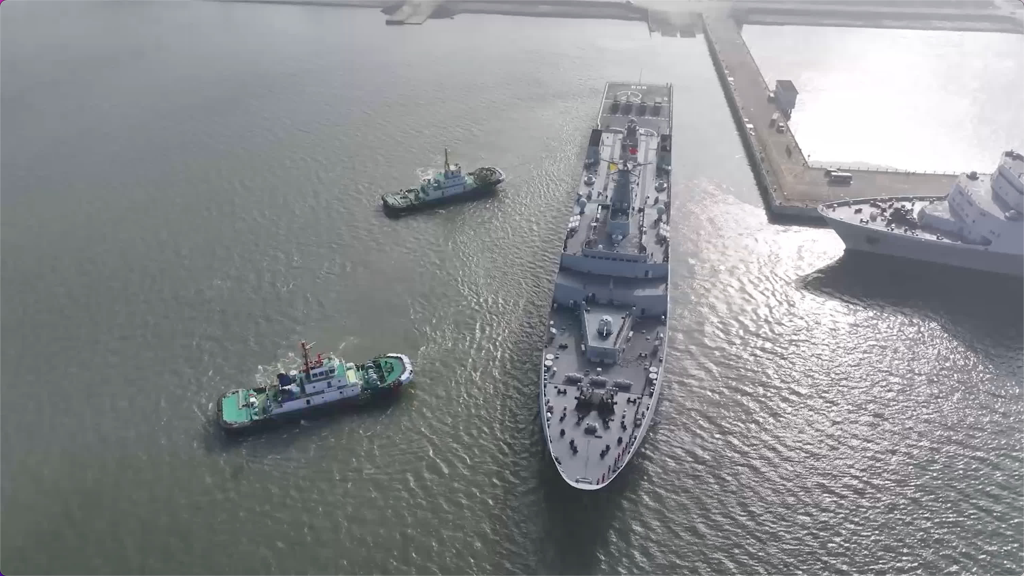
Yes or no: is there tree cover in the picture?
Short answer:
No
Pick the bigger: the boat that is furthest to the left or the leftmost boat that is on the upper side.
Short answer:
the boat that is furthest to the left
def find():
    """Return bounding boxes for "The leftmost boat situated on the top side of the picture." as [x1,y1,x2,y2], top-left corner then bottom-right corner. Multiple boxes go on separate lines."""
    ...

[382,141,509,214]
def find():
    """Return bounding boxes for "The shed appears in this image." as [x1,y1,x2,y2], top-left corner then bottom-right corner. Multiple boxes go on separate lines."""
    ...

[772,81,799,124]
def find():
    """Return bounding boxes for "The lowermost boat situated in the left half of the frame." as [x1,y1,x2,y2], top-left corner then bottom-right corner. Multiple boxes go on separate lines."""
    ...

[214,335,414,431]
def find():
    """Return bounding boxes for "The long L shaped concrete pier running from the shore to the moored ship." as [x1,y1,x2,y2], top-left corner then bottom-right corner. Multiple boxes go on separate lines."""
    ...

[696,1,1000,227]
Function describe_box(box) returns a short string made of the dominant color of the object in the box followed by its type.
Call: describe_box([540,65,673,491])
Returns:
gray ship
